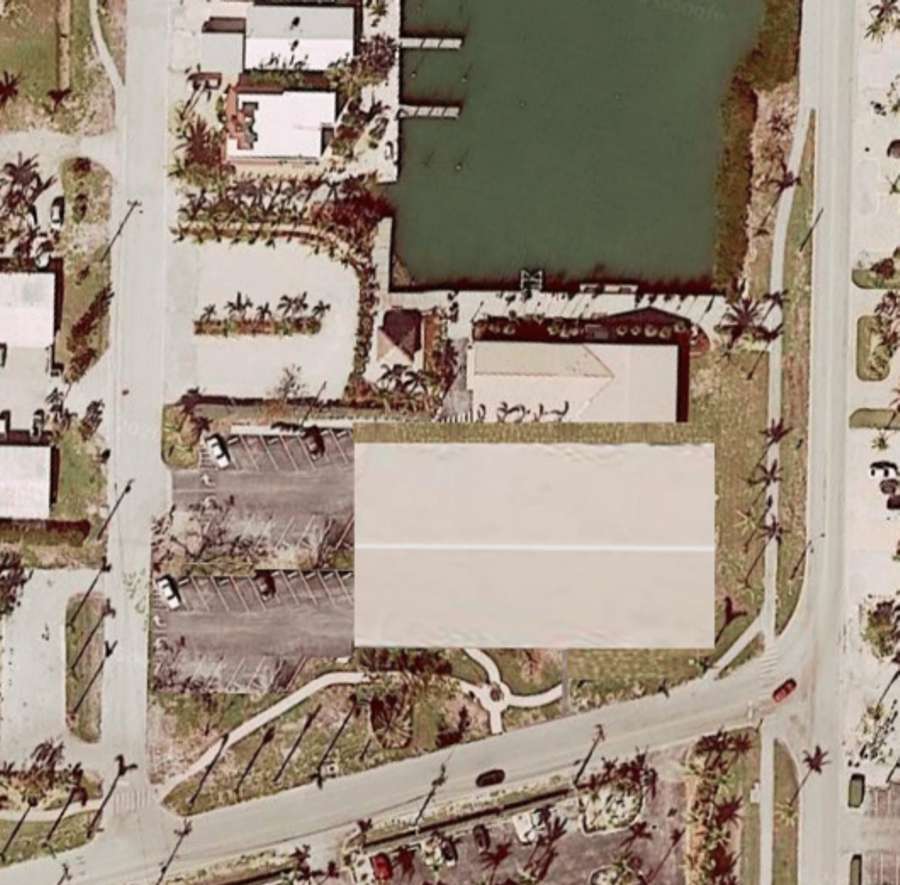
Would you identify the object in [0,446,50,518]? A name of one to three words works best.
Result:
building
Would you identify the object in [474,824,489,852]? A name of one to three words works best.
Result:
car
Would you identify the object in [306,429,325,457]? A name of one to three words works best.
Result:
car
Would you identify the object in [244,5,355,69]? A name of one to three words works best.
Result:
house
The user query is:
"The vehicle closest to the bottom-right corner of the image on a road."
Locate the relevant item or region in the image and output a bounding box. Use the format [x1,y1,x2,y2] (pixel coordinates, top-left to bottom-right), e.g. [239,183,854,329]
[773,678,797,702]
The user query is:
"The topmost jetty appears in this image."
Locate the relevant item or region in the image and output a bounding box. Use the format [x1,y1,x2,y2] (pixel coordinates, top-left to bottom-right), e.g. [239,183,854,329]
[402,37,461,50]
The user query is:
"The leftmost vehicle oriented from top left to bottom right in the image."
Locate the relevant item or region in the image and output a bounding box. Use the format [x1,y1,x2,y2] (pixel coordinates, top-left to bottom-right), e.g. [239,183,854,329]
[158,578,182,609]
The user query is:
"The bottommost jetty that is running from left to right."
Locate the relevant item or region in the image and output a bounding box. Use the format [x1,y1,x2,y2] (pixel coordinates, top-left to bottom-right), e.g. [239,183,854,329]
[401,105,459,119]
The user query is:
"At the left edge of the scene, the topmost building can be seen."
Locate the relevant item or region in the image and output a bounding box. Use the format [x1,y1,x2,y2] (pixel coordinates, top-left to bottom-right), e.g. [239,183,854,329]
[0,272,54,350]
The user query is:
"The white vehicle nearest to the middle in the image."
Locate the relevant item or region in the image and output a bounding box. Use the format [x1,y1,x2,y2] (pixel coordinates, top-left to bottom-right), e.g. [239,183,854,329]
[206,438,230,468]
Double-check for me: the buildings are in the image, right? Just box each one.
[377,326,413,362]
[468,341,679,421]
[226,88,336,165]
[244,5,355,69]
[0,446,50,518]
[355,442,715,649]
[200,33,243,72]
[0,272,54,350]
